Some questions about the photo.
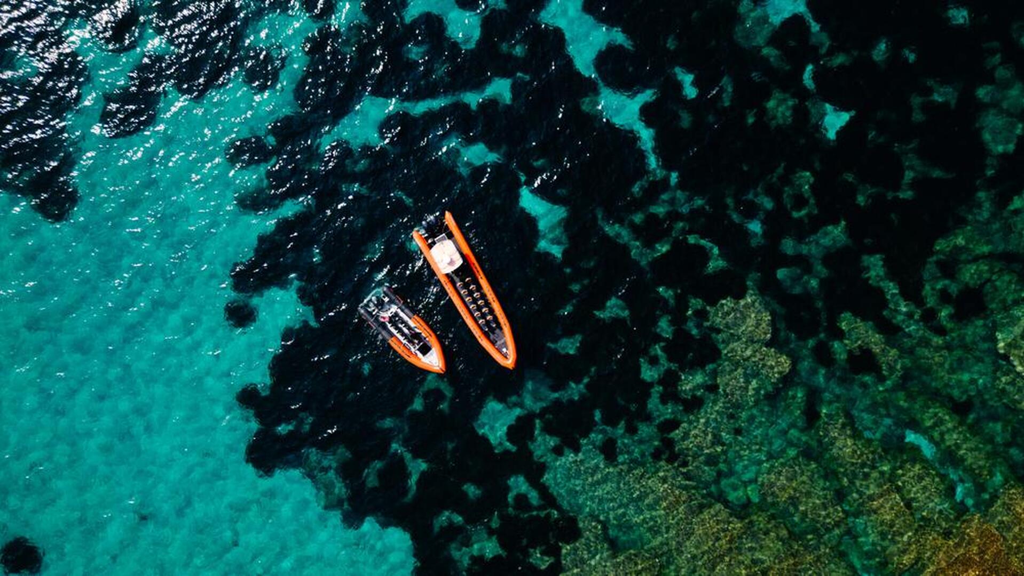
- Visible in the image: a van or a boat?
boat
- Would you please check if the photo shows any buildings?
No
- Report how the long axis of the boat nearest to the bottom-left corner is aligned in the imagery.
at an angle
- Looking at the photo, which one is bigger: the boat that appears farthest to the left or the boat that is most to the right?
the boat that is most to the right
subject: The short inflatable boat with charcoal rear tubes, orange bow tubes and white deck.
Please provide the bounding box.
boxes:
[361,286,444,374]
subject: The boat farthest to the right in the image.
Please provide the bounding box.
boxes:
[413,211,516,371]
